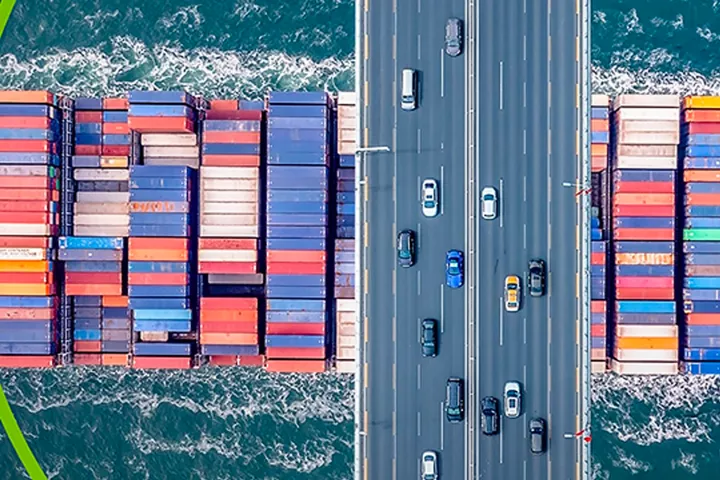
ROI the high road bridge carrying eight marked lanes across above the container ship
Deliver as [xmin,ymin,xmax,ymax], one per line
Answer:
[356,0,591,480]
